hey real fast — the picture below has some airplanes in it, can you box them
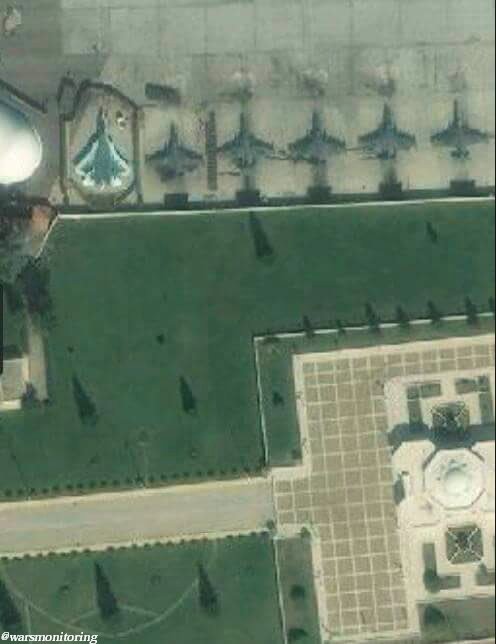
[76,112,129,187]
[218,113,275,169]
[431,107,490,159]
[290,114,348,166]
[360,108,417,164]
[146,123,204,182]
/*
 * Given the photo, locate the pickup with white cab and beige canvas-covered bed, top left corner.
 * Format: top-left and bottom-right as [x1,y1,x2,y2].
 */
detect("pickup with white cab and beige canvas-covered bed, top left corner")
[1,8,22,33]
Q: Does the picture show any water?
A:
No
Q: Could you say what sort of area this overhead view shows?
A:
airport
